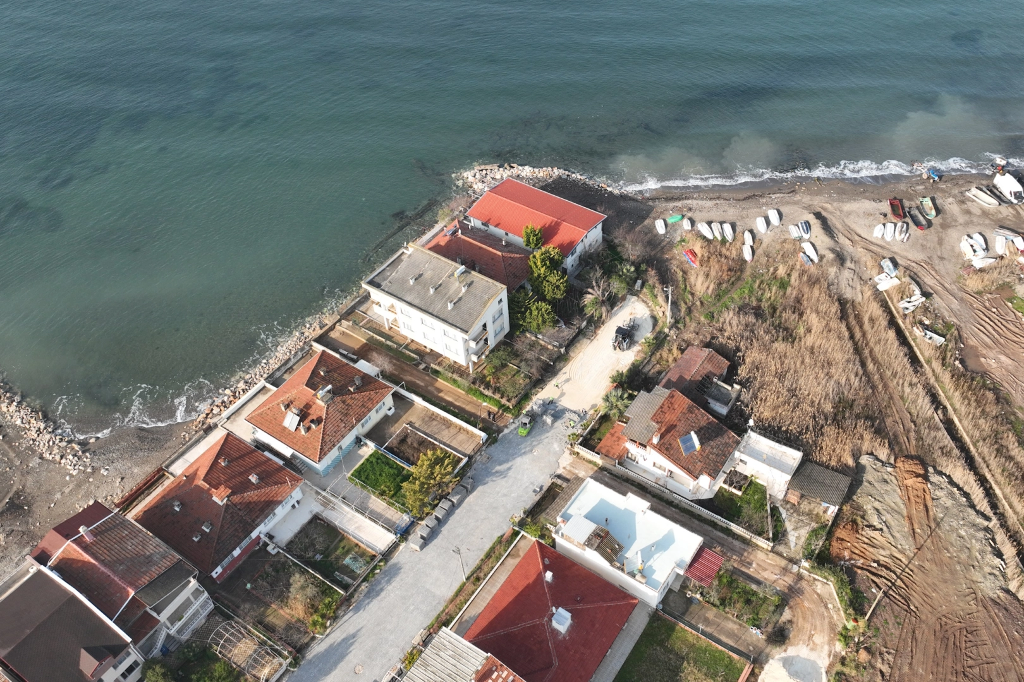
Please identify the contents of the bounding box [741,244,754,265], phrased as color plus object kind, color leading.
white boat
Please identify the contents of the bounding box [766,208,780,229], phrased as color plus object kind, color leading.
white boat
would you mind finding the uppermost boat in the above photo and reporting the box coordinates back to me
[990,156,1012,169]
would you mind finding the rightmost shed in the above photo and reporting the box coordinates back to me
[782,460,851,517]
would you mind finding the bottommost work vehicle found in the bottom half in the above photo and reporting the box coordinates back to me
[515,411,534,437]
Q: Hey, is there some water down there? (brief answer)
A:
Yes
